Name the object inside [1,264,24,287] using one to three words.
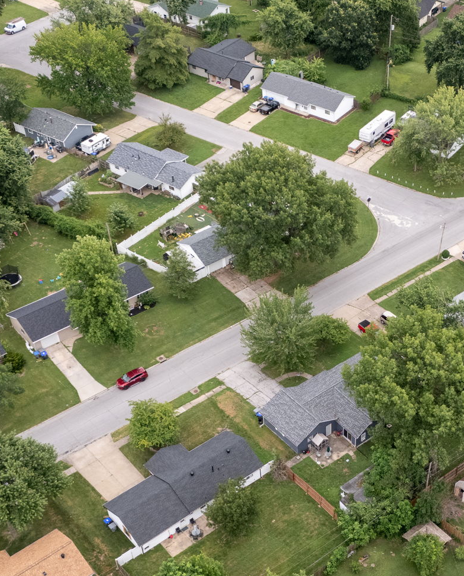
trampoline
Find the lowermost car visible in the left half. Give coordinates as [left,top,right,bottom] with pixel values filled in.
[114,363,150,387]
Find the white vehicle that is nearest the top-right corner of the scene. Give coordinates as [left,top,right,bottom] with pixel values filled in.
[361,106,397,147]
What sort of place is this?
residential area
